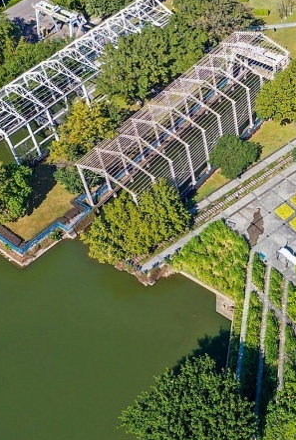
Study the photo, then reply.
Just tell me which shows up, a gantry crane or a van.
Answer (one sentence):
Of the two, only a gantry crane appears.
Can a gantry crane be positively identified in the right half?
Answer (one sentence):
No, no gantry crane appears in the right half.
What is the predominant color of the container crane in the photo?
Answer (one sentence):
The container crane is white.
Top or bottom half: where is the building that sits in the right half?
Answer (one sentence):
The top half of the photo is where the building that sits in the right half is.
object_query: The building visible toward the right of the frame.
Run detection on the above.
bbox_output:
[75,31,289,215]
